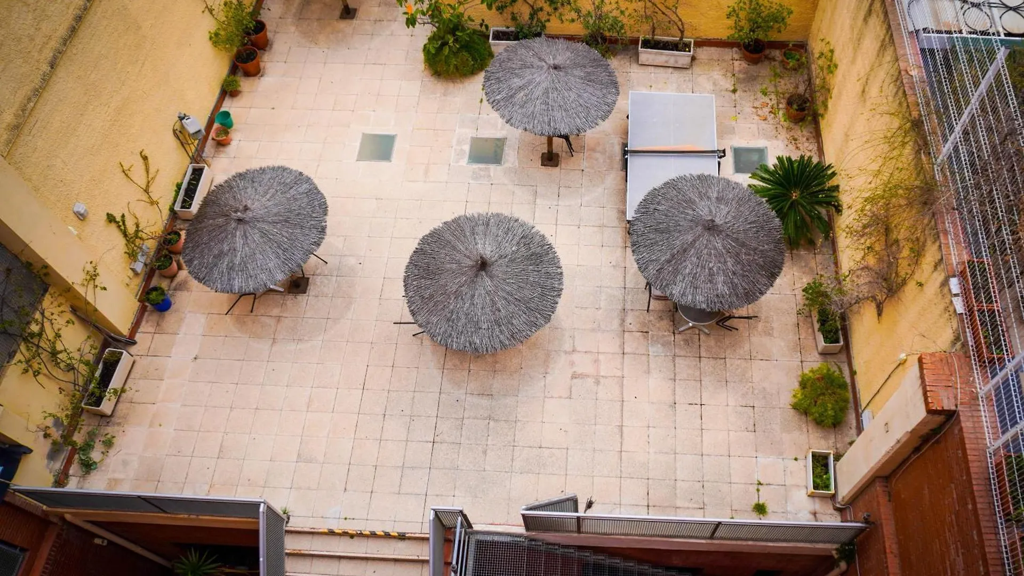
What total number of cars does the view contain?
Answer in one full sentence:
The photo contains no cars.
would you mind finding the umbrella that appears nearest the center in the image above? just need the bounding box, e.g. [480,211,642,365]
[405,214,568,356]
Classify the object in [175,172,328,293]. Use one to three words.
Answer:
umbrella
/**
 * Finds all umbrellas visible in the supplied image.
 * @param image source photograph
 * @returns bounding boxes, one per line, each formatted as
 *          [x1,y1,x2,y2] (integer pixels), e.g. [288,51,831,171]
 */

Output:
[175,172,328,293]
[623,181,785,319]
[405,214,568,356]
[338,0,356,18]
[487,38,626,166]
